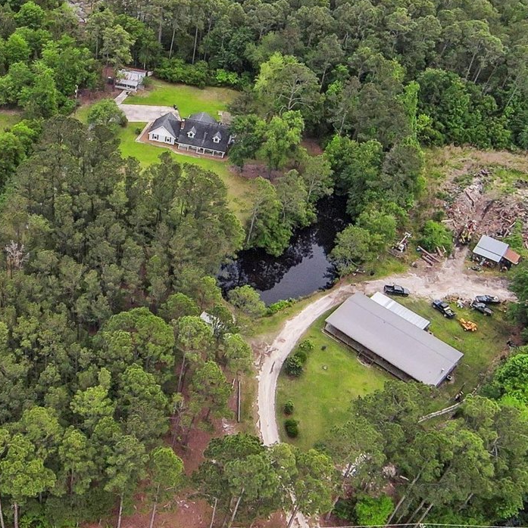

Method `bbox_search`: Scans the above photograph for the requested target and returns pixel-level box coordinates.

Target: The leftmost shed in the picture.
[114,65,148,94]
